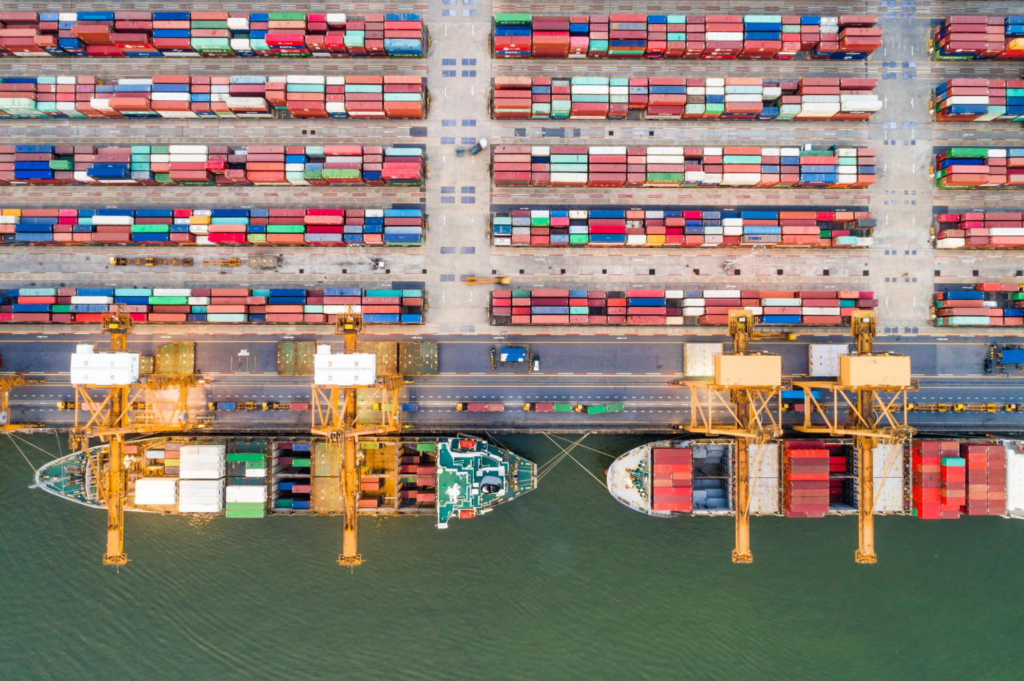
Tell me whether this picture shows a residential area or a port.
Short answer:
port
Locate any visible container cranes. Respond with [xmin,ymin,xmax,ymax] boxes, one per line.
[68,302,214,574]
[311,303,414,575]
[669,312,785,565]
[0,373,43,430]
[775,312,915,565]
